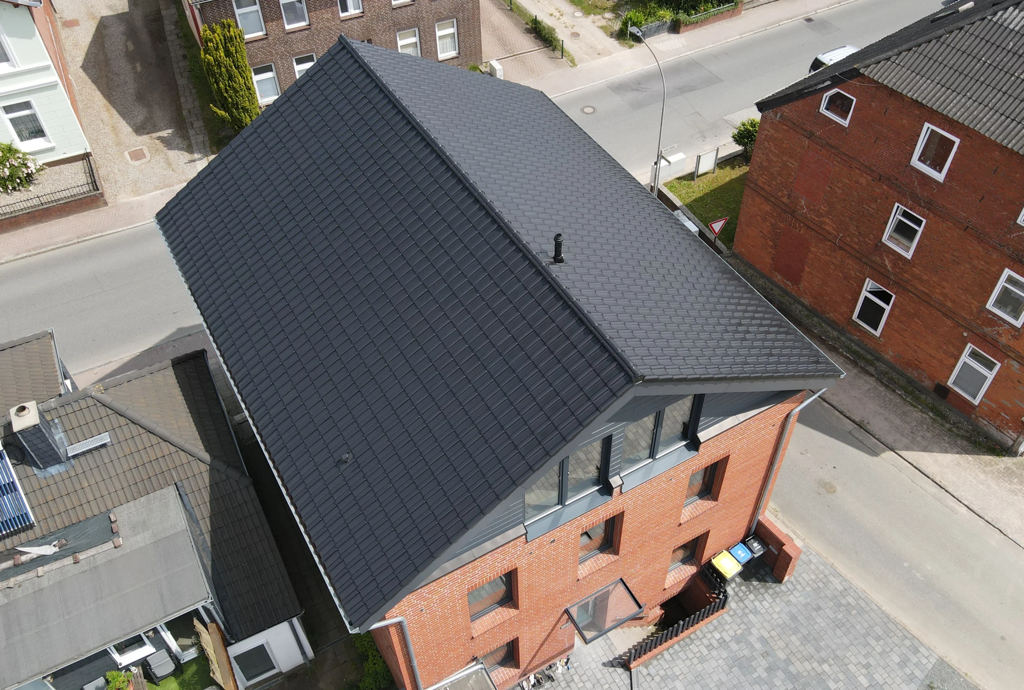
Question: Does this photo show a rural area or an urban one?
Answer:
urban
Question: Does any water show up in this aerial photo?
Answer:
No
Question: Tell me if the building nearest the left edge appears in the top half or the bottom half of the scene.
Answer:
top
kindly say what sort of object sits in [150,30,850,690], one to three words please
house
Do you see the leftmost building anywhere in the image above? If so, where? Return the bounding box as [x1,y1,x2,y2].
[0,0,90,177]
